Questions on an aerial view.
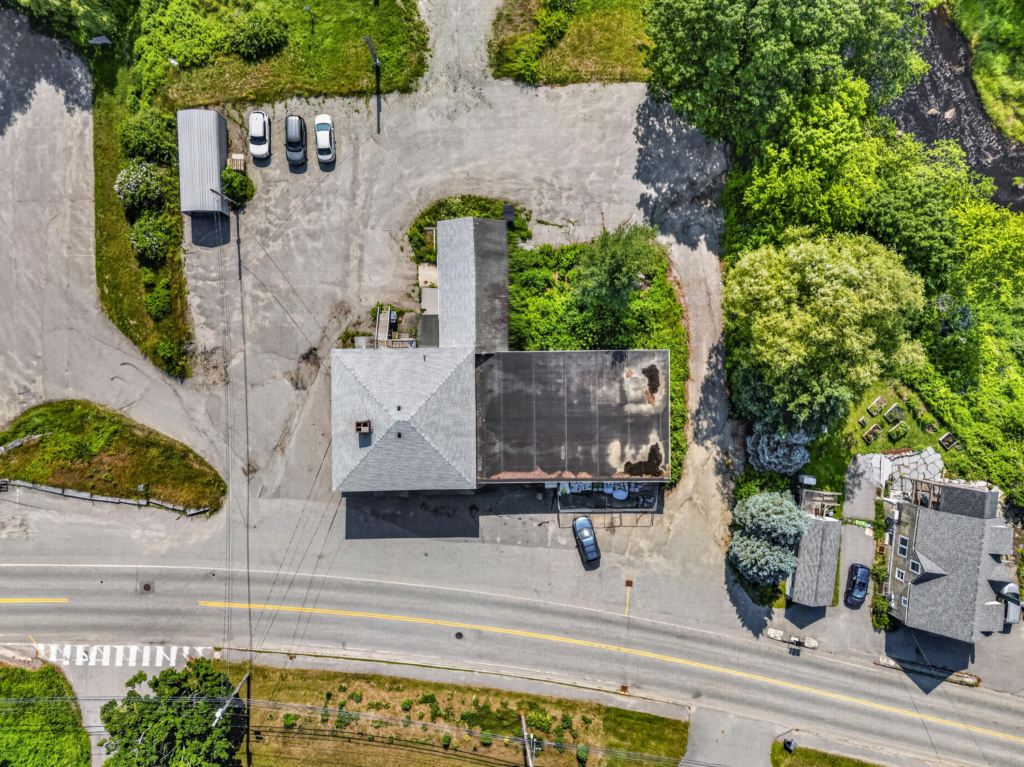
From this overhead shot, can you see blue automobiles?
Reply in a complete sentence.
Yes, the photo shows a blue automobile.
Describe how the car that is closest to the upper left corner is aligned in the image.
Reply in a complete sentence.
The car that is closest to the upper left corner is oriented up and down.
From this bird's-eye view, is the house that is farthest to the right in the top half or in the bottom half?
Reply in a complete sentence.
You can find the house that is farthest to the right in the bottom half.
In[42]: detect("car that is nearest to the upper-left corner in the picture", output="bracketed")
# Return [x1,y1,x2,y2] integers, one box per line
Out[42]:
[248,111,273,160]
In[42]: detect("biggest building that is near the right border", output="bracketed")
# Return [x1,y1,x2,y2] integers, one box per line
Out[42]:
[887,485,1018,644]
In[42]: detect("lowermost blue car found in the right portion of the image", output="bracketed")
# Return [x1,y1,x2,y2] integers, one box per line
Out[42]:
[842,560,871,608]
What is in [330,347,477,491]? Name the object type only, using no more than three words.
building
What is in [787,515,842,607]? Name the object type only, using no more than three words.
building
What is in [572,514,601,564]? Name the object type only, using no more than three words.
car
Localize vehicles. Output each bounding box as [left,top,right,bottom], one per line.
[248,111,273,160]
[284,116,309,166]
[998,583,1024,630]
[312,115,336,163]
[572,514,601,564]
[842,560,871,608]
